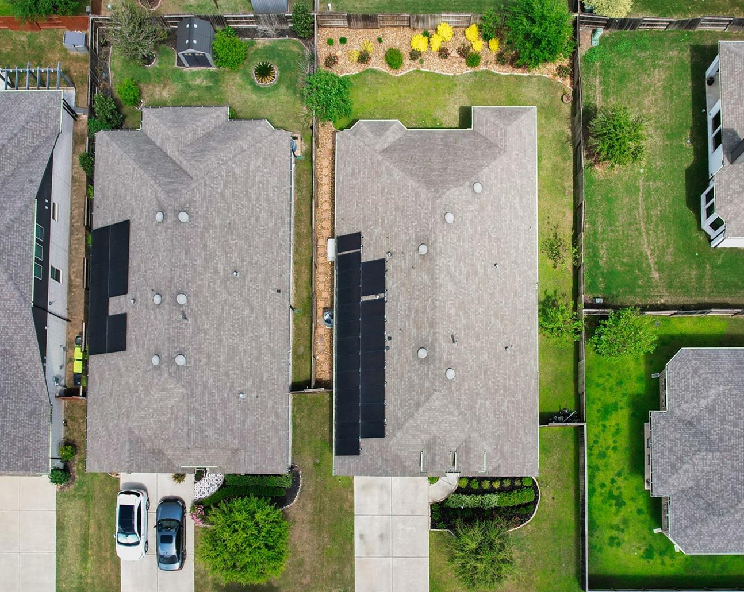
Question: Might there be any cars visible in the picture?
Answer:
Yes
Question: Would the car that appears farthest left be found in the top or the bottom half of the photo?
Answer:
bottom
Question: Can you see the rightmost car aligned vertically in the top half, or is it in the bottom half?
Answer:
bottom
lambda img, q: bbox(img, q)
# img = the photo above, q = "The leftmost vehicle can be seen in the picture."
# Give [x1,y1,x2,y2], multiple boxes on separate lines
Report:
[113,490,149,561]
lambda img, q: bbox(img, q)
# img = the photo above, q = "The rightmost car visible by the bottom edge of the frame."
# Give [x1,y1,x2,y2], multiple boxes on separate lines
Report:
[152,500,186,571]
